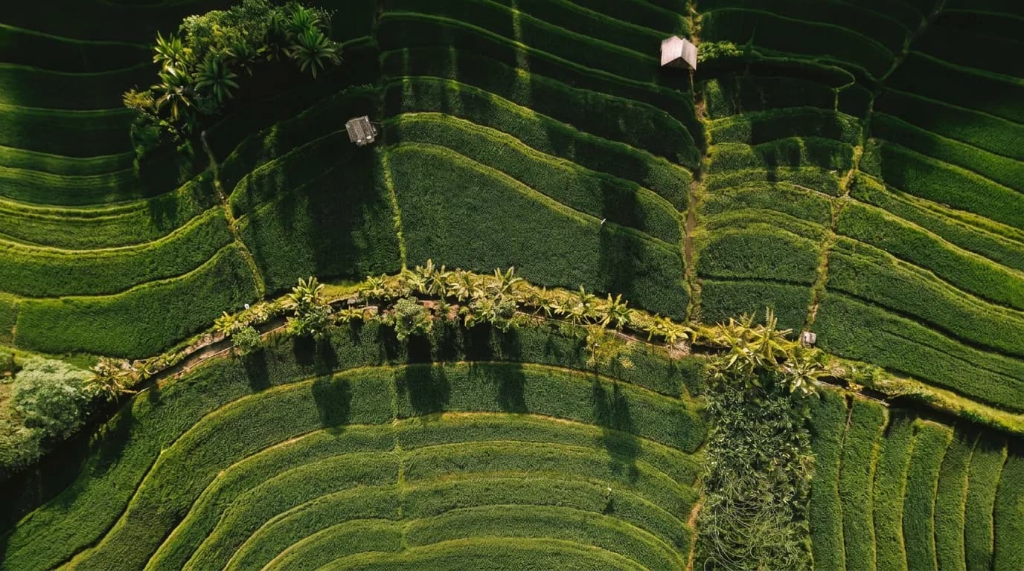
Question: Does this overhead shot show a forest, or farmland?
farmland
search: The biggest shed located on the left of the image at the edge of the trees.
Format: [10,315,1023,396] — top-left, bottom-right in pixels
[347,116,385,151]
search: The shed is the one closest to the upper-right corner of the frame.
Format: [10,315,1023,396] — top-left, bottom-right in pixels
[661,33,698,77]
